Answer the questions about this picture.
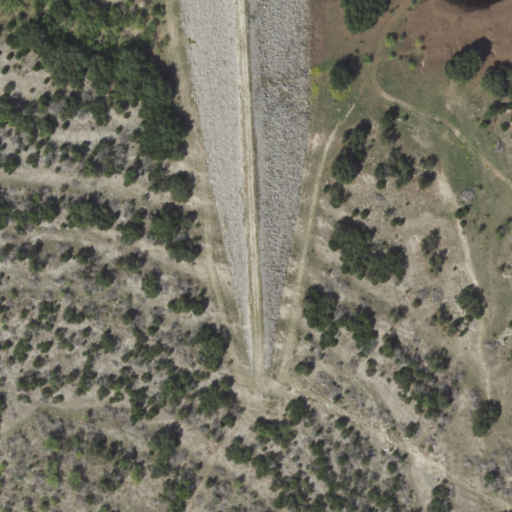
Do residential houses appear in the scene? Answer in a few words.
No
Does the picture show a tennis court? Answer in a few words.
No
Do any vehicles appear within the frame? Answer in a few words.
No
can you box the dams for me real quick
[182,0,312,380]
